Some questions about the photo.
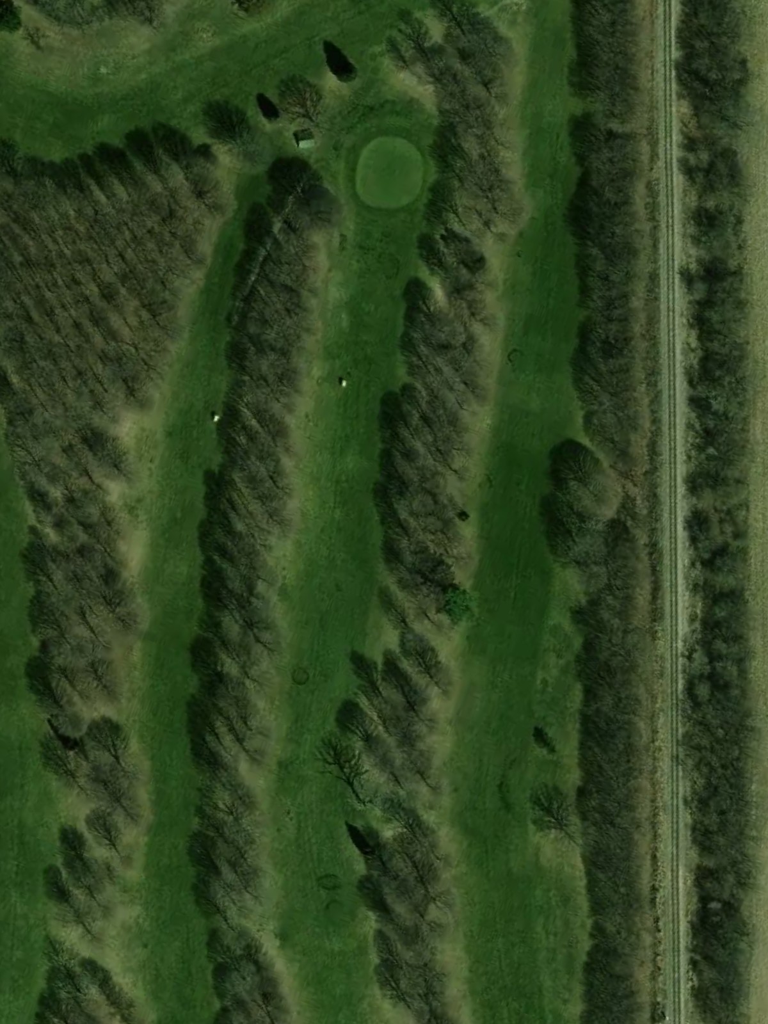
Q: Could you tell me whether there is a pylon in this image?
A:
No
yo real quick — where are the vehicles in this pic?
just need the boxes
[341,379,346,387]
[213,413,220,421]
